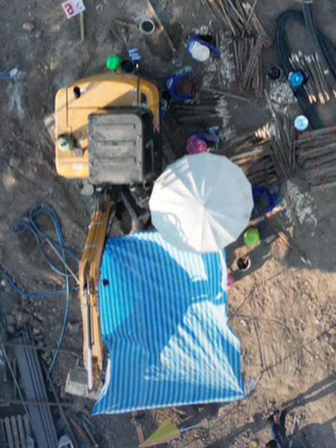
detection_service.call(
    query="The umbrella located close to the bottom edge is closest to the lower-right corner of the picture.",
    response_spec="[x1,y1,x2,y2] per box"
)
[139,419,206,448]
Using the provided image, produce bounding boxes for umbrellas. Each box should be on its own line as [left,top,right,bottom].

[139,419,206,448]
[150,152,254,254]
